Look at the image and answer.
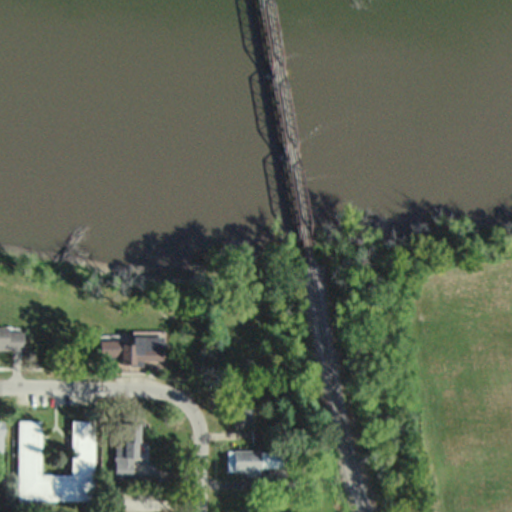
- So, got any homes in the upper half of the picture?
No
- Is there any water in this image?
Yes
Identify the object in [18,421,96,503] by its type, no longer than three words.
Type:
building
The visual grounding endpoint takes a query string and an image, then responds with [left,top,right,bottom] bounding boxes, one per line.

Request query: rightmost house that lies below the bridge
[227,450,283,474]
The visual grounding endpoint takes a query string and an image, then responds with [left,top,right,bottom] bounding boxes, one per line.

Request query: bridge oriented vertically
[258,0,320,251]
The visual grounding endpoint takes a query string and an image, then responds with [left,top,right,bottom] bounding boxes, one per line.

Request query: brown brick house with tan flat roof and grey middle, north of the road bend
[101,331,167,366]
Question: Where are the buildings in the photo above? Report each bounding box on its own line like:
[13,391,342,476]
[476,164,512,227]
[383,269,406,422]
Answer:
[101,331,167,366]
[116,412,142,476]
[18,421,96,503]
[227,450,283,474]
[0,326,26,356]
[0,422,6,456]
